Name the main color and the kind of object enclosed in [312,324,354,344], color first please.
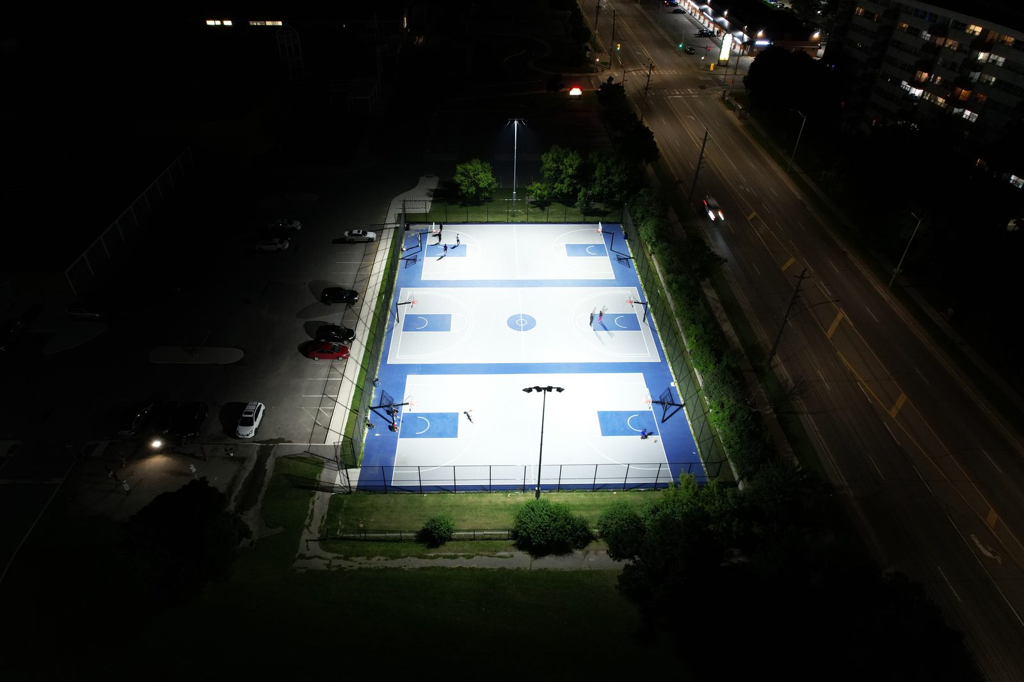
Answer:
black car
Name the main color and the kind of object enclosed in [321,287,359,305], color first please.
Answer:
black car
